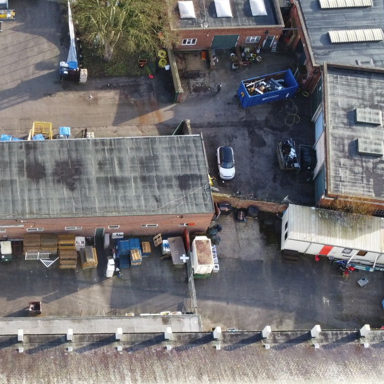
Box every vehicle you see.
[0,239,12,269]
[216,150,237,182]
